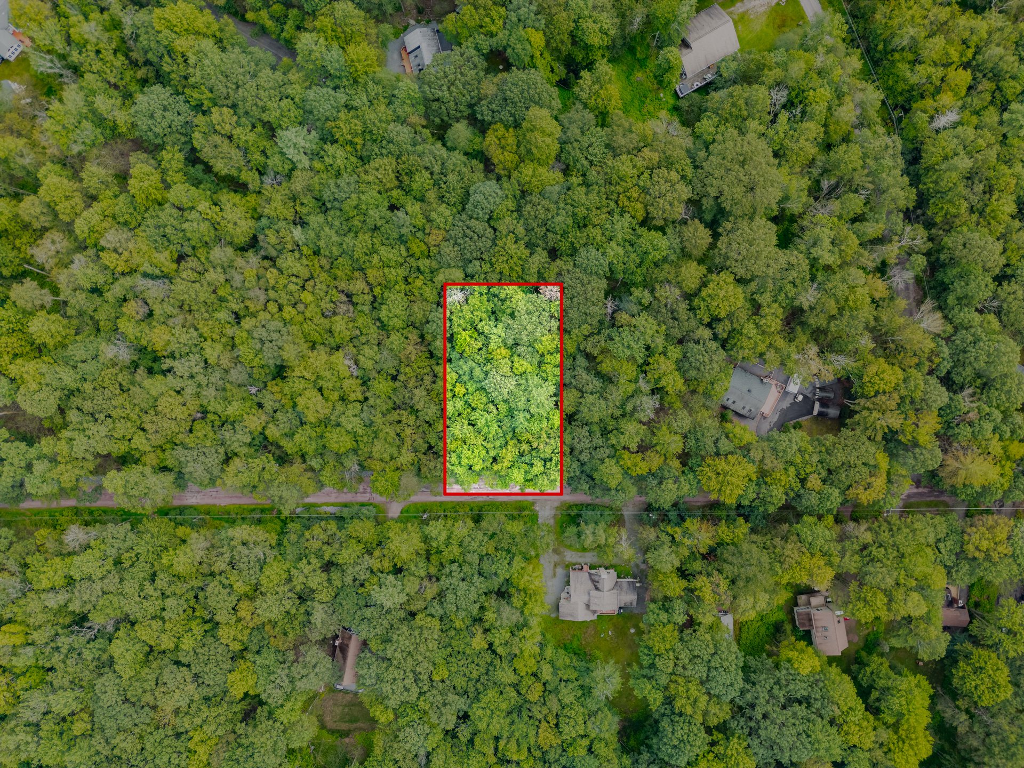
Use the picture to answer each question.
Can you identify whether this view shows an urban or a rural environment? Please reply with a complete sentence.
The area is rural.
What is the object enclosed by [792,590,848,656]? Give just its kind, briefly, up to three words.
house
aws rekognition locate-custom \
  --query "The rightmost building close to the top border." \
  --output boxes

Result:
[674,3,740,101]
